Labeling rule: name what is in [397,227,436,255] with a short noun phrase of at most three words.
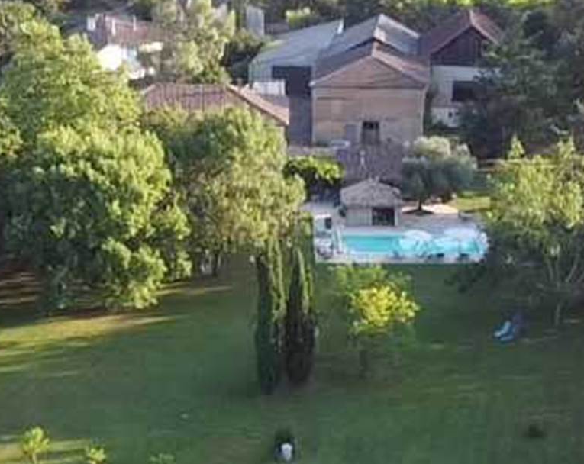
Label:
umbrella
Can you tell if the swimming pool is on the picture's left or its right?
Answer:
right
